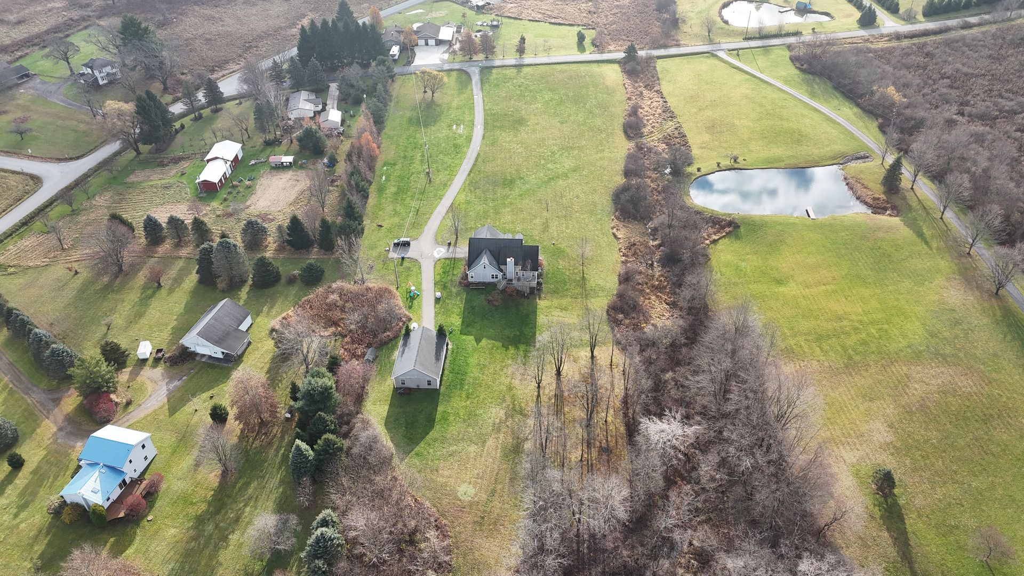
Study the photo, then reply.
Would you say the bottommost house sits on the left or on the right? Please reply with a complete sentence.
You can find the bottommost house on the left side of the picture.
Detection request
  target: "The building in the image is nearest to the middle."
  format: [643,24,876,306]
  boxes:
[466,221,536,282]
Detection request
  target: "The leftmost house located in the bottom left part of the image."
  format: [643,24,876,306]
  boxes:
[52,424,159,515]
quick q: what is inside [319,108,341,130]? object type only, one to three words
building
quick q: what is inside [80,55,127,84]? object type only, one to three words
house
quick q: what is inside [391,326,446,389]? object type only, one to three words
building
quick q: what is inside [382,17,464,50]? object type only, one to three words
house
